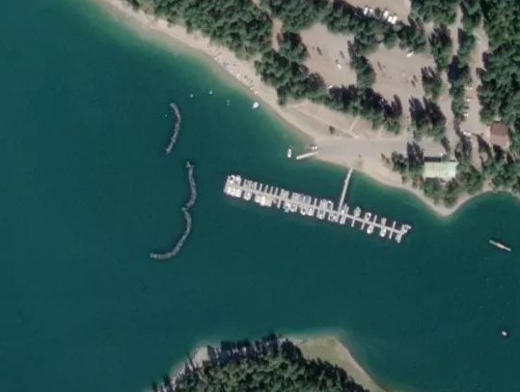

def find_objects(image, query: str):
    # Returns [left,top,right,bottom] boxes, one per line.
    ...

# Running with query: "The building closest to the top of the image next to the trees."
[486,123,509,150]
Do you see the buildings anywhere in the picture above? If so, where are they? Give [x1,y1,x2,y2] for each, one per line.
[486,123,509,150]
[424,162,457,180]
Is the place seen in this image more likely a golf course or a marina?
marina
